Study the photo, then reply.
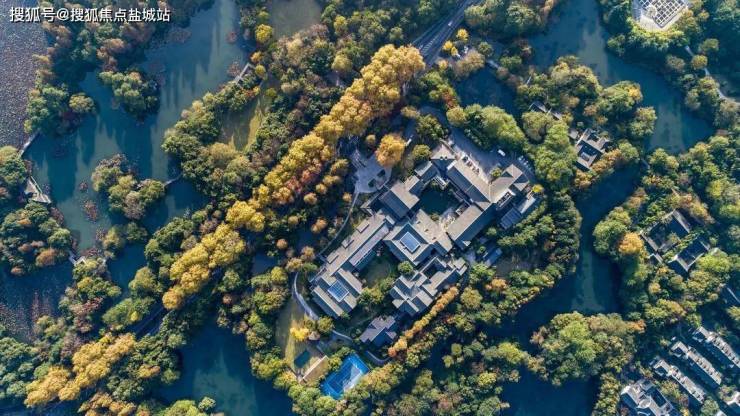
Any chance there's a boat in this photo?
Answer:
No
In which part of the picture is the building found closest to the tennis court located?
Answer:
bottom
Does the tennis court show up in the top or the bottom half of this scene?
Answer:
bottom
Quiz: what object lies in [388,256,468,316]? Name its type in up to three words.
house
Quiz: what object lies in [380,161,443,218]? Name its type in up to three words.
building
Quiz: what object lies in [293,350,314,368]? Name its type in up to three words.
swimming pool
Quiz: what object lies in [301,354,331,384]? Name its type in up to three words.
building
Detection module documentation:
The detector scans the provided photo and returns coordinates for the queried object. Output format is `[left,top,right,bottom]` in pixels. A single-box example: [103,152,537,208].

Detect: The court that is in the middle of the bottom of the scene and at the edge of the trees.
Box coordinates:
[322,353,369,402]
